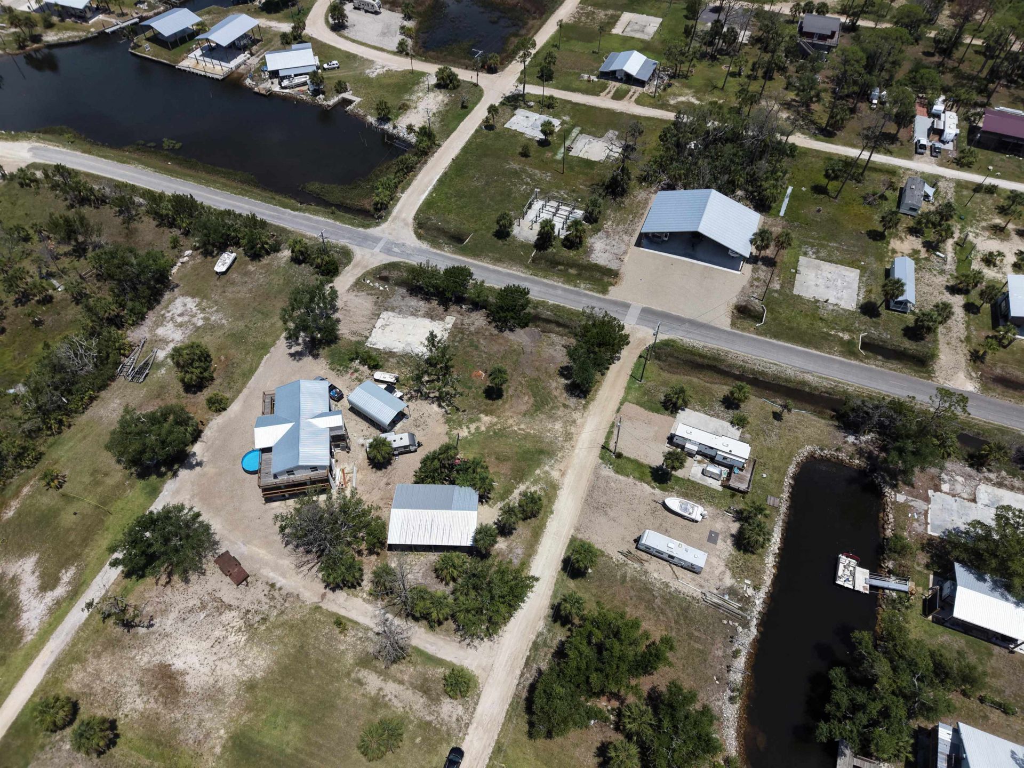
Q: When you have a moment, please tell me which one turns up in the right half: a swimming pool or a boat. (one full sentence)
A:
You can see a boat in the right half.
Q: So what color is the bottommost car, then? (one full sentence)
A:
From above, the bottommost car appears black.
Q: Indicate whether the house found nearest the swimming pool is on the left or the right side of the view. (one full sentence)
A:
The house found nearest the swimming pool is on the left side of the image.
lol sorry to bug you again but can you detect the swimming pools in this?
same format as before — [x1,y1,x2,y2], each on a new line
[237,448,265,476]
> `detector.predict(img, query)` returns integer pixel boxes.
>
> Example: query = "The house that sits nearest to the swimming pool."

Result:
[254,380,351,504]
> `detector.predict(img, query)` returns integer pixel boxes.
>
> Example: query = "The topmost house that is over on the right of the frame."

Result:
[788,13,839,65]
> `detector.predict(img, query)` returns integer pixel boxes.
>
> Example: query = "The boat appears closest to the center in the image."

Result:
[370,372,401,384]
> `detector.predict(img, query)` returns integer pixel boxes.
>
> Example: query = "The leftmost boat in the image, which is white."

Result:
[214,249,235,280]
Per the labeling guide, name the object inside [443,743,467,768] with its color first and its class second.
black car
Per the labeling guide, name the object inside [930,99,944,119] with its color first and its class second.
white vehicle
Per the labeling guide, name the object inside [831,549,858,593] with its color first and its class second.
white boat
